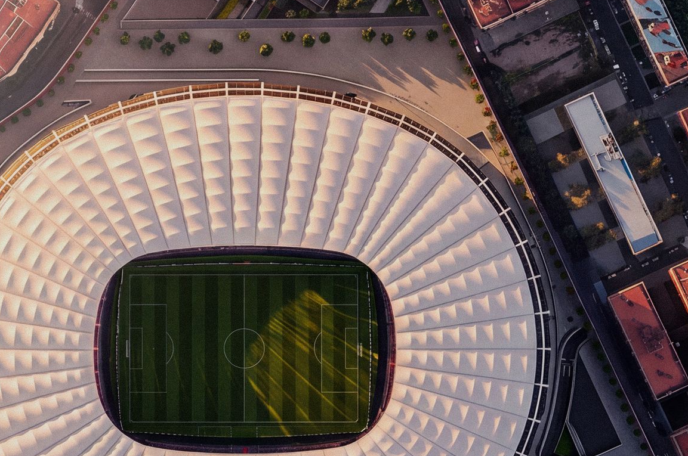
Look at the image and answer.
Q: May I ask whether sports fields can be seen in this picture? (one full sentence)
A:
Yes, the frame does contain a sports field.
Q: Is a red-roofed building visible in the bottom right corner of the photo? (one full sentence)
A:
Yes, a red-roofed building appears in the bottom right corner of the photo.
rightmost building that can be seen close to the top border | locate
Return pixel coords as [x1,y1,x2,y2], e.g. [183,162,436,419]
[621,0,688,87]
